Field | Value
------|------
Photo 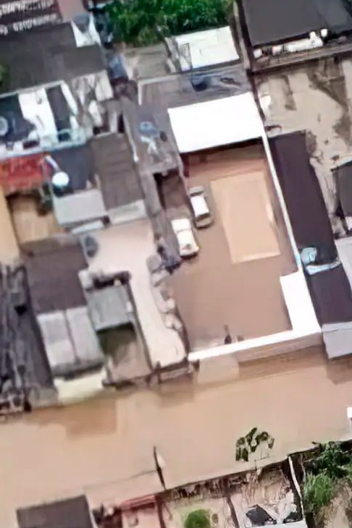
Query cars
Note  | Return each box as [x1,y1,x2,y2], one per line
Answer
[188,189,216,231]
[170,220,201,265]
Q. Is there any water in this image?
Yes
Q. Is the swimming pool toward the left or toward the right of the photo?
right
